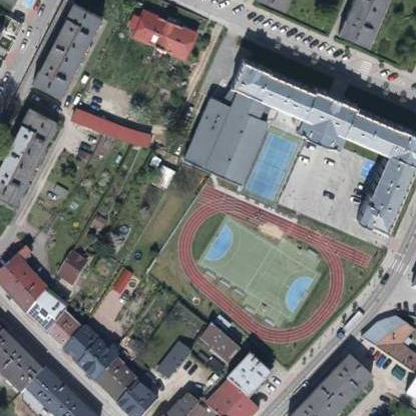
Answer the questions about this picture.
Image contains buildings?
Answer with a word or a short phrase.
Yes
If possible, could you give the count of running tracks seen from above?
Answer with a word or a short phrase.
1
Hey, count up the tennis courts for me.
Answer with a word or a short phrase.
one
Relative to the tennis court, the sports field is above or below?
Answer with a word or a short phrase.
below it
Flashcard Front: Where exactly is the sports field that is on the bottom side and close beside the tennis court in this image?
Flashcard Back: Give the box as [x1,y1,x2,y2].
[199,216,320,326]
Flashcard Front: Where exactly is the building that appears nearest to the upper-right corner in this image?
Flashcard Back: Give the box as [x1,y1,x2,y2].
[340,0,392,48]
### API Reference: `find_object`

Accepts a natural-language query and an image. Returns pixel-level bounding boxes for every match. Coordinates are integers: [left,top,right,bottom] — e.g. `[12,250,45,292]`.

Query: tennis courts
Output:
[240,128,303,206]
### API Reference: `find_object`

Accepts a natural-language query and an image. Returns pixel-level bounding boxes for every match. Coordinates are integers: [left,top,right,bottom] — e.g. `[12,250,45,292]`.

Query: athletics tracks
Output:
[179,183,371,343]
